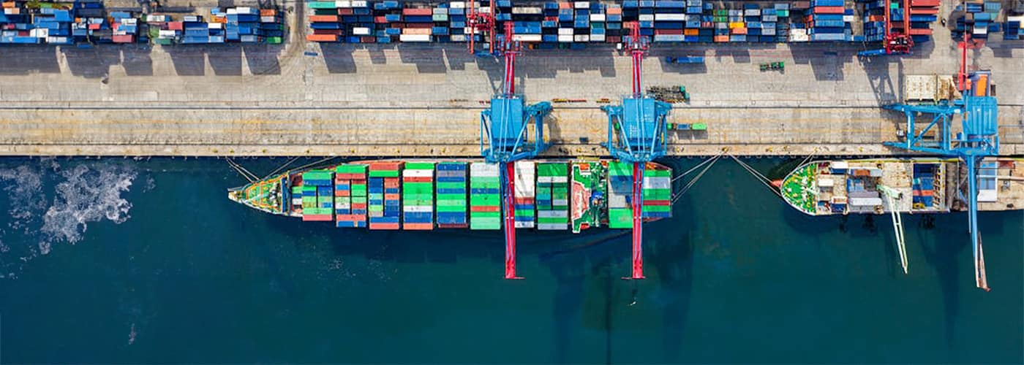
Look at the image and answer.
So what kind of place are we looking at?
port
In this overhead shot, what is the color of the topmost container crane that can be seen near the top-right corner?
red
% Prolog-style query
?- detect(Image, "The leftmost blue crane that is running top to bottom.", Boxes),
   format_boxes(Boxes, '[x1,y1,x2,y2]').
[481,19,548,280]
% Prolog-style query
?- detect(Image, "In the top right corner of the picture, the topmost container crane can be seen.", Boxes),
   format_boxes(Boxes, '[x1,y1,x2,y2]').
[859,0,913,57]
